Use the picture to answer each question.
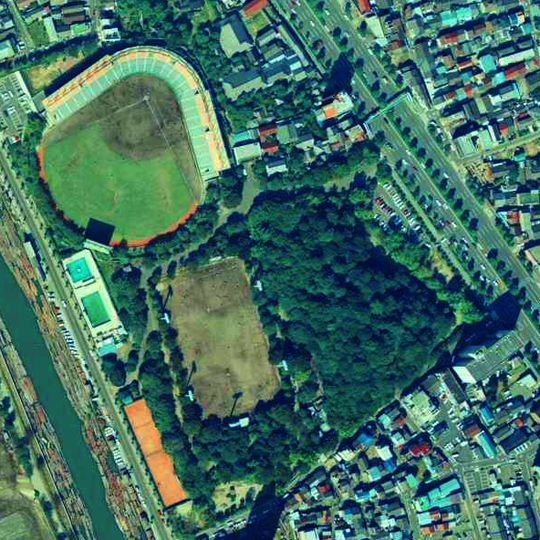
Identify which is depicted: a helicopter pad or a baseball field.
baseball field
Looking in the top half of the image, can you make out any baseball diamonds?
Yes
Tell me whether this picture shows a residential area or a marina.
residential area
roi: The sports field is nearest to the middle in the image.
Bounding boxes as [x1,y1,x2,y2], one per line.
[166,256,280,419]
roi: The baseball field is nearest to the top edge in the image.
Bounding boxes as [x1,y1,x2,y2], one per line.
[37,73,202,248]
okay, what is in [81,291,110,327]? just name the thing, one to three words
swimming pool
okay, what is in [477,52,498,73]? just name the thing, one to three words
house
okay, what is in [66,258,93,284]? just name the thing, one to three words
swimming pool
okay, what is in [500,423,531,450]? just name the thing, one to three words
building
